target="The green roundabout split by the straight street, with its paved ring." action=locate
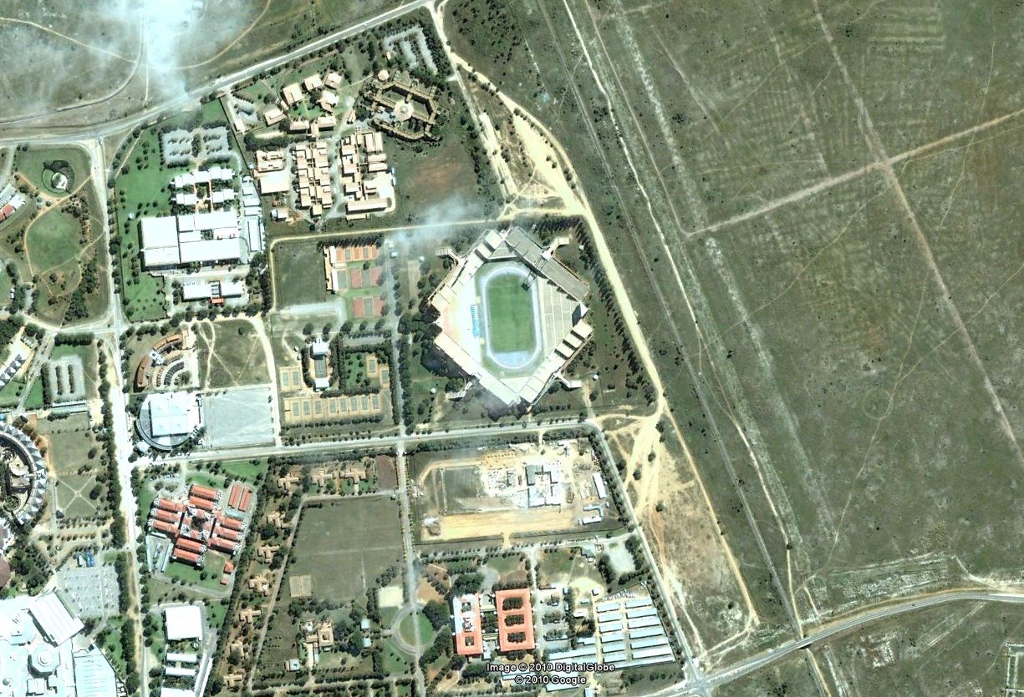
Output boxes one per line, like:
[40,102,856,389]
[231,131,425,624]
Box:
[393,609,437,653]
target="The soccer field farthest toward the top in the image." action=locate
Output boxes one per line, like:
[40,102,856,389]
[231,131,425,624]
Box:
[488,274,532,365]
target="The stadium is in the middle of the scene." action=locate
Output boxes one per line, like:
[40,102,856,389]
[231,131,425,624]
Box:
[426,225,594,407]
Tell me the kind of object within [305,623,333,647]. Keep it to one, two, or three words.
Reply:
house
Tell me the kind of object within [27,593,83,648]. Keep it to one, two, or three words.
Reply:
building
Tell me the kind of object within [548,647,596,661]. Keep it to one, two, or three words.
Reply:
shed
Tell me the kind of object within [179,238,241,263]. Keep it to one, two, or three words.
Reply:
building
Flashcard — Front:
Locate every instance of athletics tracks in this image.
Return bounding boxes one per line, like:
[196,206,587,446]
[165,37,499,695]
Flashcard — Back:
[481,266,539,371]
